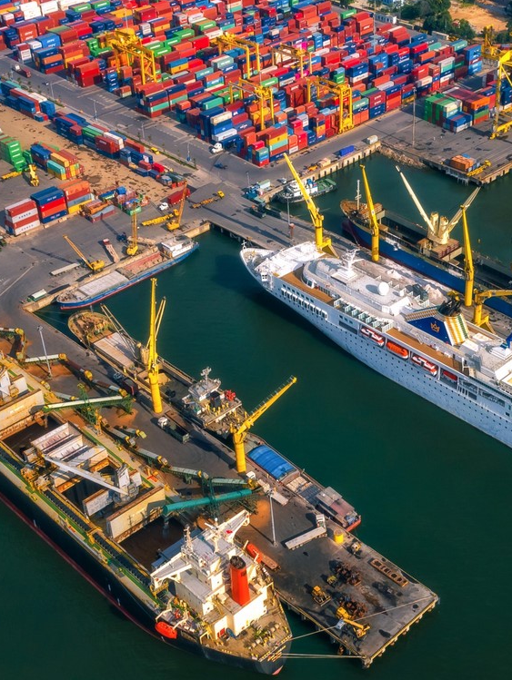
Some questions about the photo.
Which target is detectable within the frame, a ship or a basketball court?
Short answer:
ship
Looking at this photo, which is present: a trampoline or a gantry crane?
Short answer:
gantry crane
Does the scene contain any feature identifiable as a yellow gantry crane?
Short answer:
Yes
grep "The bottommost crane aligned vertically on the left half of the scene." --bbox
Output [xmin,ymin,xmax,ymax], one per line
[142,278,163,415]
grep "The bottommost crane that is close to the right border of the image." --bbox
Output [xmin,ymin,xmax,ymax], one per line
[473,270,512,327]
